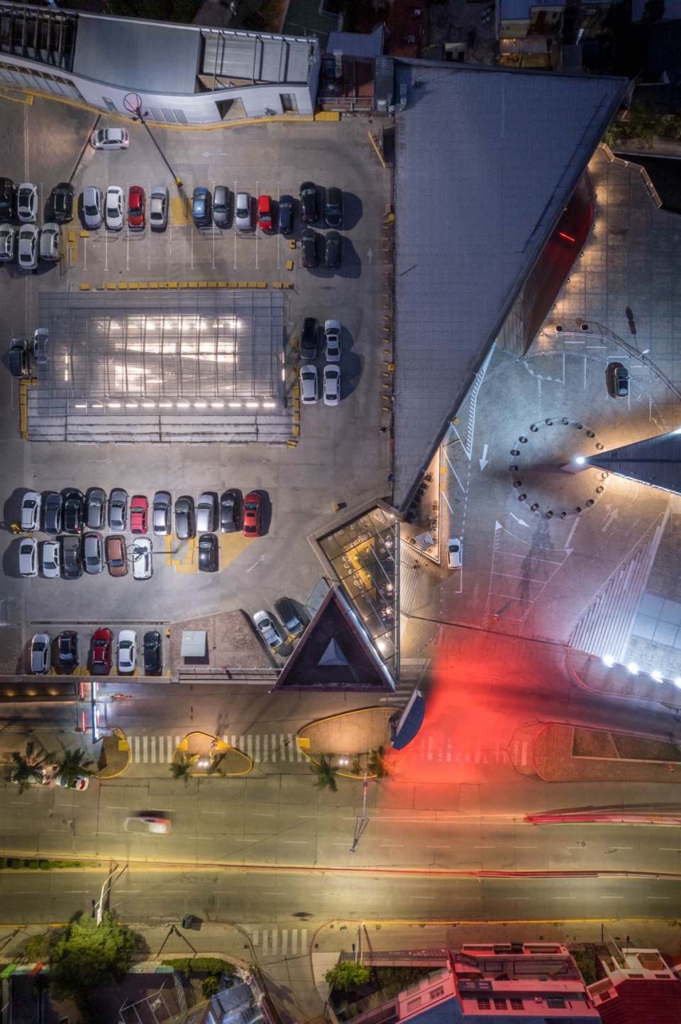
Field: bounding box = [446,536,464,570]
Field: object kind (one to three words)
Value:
car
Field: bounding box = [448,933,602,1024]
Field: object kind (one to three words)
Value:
building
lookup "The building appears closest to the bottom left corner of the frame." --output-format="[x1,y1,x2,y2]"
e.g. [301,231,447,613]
[198,962,272,1024]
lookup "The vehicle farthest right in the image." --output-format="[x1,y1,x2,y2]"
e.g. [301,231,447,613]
[609,363,629,400]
